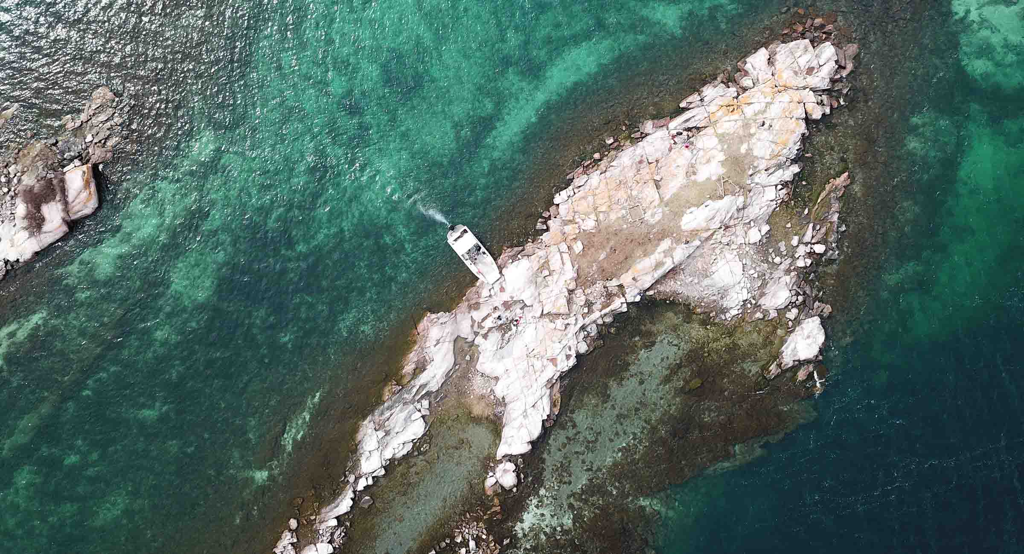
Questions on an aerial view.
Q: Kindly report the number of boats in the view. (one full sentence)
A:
The count comes to 1 boat.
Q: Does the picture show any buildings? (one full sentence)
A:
No, the picture doesn't show any building.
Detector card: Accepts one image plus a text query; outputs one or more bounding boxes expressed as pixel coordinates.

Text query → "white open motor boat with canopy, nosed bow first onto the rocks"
[447,223,502,285]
